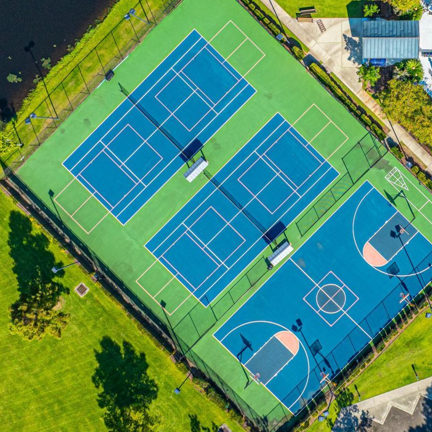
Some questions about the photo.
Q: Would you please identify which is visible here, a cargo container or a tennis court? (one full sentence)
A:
I can see a tennis court in this picture.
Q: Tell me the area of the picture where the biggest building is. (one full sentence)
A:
The biggest building is located in the top right region of the scene.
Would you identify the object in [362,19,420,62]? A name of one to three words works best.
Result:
building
